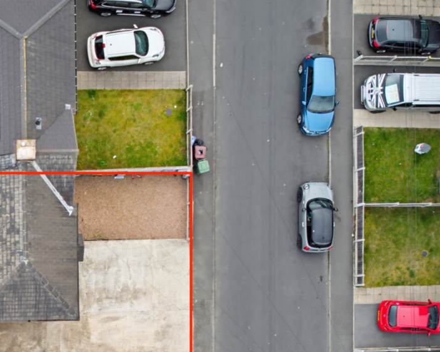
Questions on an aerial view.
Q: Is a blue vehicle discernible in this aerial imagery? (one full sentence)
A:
Yes, the photo shows a blue vehicle.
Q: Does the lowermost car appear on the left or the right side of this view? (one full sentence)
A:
It is on the right.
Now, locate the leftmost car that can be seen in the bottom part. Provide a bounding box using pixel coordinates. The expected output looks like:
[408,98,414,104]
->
[295,181,340,251]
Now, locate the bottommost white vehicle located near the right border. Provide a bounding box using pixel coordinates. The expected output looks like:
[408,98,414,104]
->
[362,68,440,113]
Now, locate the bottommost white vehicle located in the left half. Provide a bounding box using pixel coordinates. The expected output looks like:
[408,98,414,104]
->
[86,25,166,70]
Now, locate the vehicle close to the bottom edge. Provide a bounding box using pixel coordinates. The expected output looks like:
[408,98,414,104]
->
[371,298,440,338]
